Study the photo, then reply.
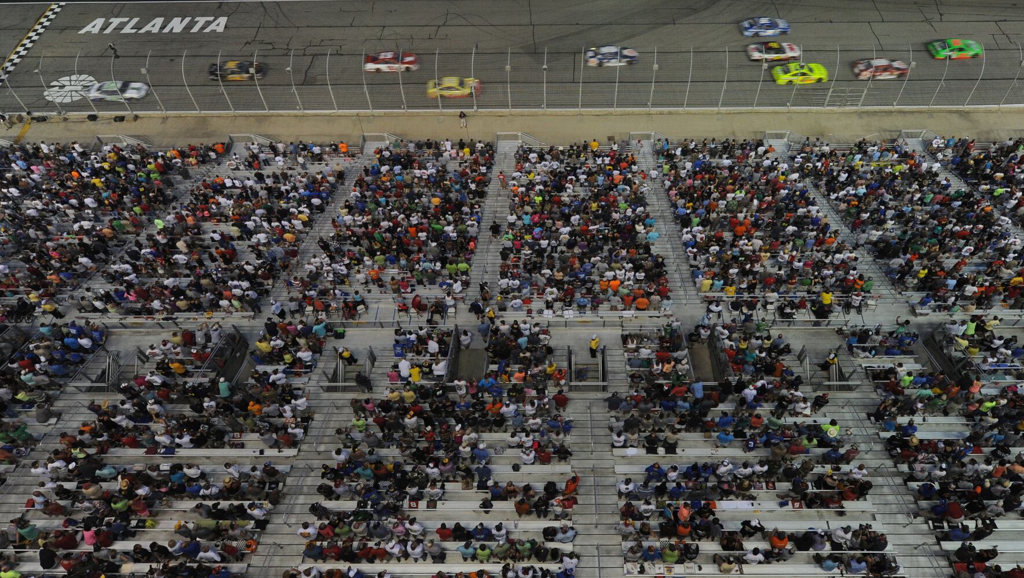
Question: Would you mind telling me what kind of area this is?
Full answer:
It's a sports ground.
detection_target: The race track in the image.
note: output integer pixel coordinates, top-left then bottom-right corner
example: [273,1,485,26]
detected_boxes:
[0,0,1024,113]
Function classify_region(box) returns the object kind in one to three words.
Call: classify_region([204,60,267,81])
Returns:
car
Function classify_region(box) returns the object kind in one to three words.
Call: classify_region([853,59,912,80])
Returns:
car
